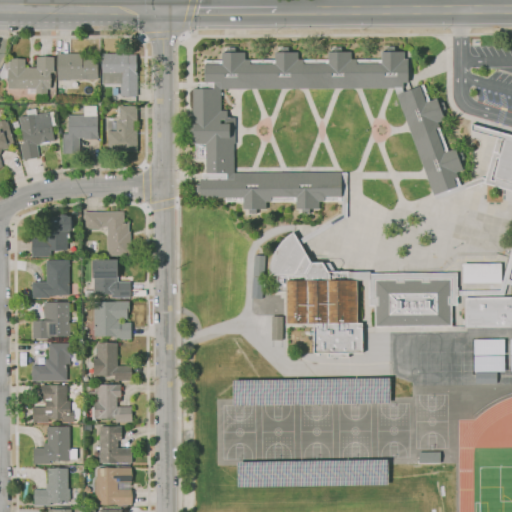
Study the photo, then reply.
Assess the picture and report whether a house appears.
Yes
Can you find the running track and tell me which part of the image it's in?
bottom right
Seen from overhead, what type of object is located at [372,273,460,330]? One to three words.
building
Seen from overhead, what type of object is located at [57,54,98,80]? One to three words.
house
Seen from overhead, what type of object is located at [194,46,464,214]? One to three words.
building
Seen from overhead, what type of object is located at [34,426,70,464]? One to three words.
house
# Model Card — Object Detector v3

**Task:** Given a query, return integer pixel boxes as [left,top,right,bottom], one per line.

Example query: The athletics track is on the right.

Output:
[458,394,512,512]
